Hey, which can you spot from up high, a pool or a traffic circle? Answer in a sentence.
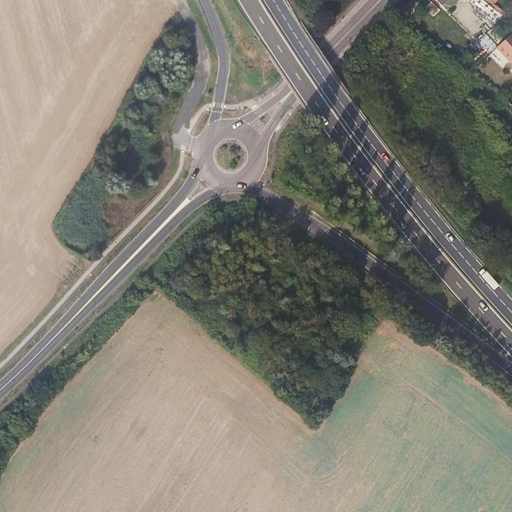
The image shows a traffic circle.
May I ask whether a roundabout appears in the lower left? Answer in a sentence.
No, looking in the lower left, there is no roundabout.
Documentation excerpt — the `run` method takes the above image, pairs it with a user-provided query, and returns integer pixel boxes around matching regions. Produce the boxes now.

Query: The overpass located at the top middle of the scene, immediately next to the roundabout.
[260,5,356,124]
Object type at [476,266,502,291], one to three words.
truck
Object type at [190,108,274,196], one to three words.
roundabout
